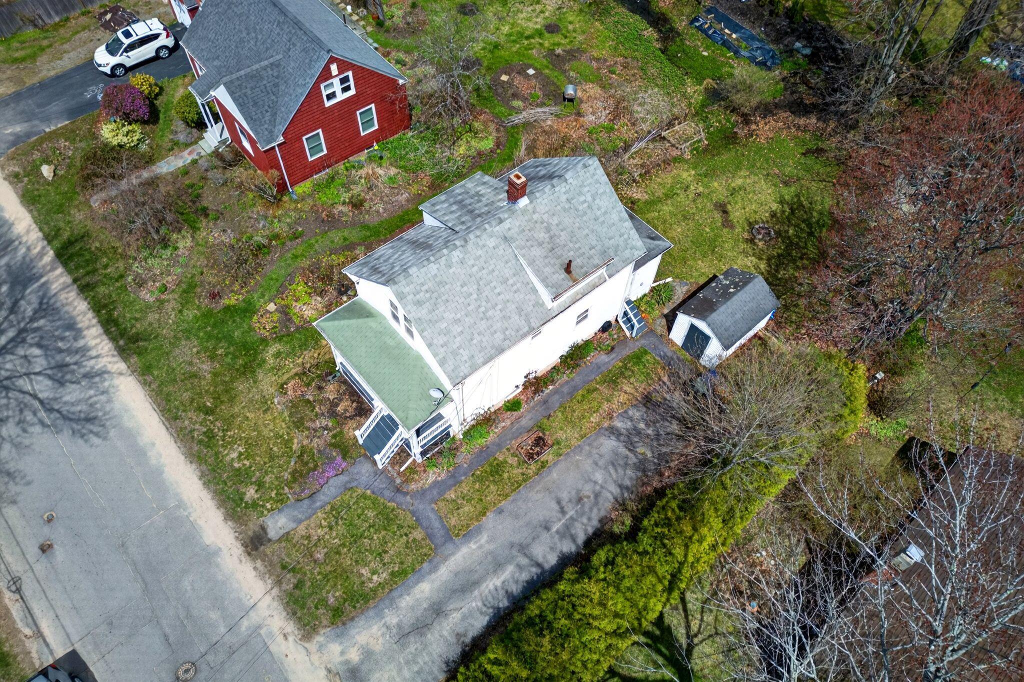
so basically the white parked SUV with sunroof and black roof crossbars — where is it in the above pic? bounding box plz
[84,13,175,76]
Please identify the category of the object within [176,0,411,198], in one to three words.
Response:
house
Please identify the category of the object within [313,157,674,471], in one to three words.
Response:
house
